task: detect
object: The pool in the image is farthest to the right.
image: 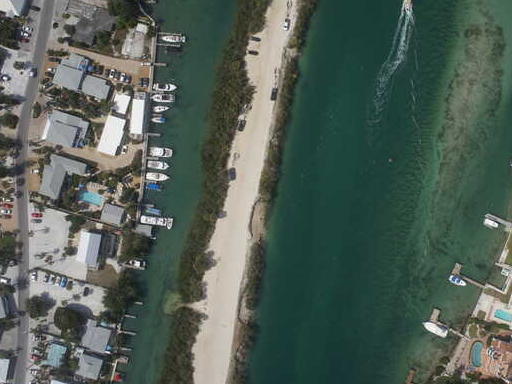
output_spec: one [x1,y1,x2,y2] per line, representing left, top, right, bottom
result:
[494,308,512,322]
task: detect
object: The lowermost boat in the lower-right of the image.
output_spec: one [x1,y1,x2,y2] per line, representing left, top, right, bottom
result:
[424,321,450,339]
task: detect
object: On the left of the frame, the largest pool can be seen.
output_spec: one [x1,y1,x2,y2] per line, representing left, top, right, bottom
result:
[78,189,104,207]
